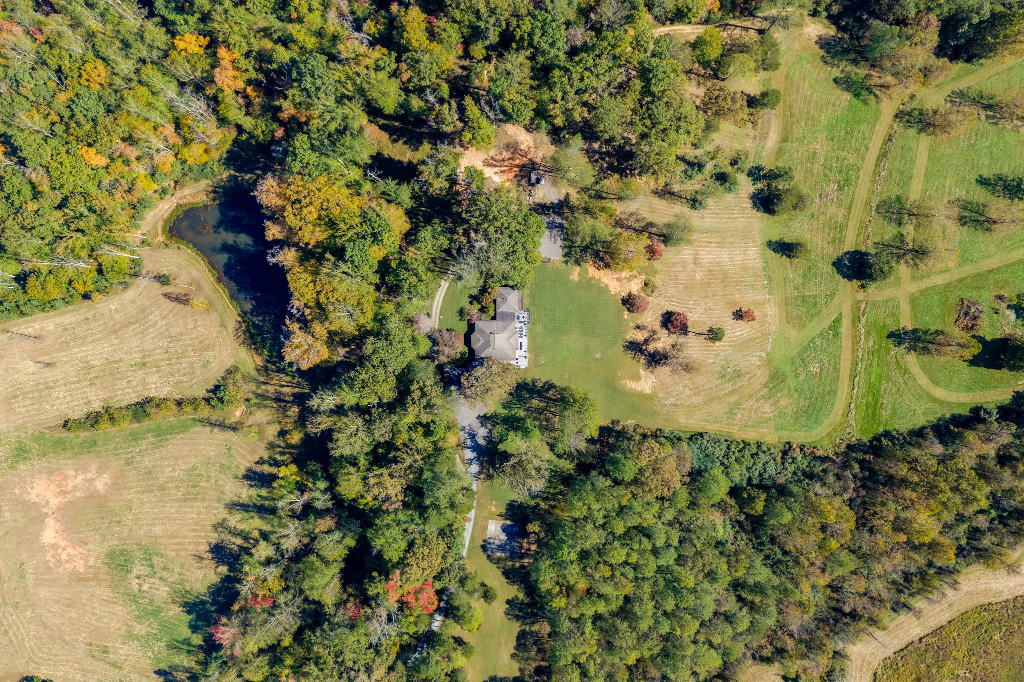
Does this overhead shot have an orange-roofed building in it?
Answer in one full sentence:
No, no orange-roofed building can be seen from above.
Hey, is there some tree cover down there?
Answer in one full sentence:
Yes, some tree cover is visible.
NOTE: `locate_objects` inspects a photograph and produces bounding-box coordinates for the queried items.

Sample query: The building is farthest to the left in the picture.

[471,287,519,361]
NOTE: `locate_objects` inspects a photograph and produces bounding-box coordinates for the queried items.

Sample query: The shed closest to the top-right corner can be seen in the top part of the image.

[541,216,564,259]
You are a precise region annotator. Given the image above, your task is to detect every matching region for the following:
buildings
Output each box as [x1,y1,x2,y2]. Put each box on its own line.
[471,287,519,361]
[541,216,564,259]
